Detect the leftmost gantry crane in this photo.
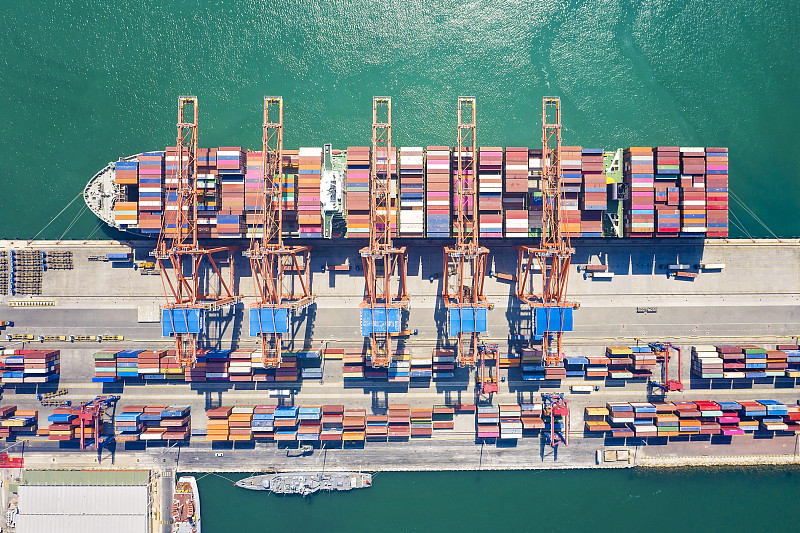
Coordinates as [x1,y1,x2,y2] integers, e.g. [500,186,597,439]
[81,393,123,449]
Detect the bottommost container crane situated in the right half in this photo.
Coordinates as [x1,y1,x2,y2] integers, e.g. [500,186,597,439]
[541,392,569,448]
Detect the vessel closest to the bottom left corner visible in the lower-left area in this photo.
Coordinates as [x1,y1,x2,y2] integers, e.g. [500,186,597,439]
[170,471,204,533]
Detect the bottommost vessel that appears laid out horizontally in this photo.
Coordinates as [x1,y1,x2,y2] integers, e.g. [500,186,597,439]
[234,462,373,499]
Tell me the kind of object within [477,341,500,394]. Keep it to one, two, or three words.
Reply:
container crane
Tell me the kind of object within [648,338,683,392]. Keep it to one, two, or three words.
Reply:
container crane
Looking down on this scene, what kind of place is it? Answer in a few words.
port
